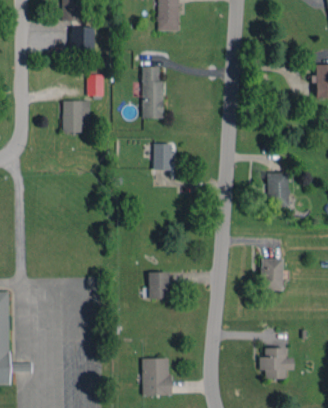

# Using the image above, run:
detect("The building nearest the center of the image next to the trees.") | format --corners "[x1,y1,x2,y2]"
[154,143,176,170]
